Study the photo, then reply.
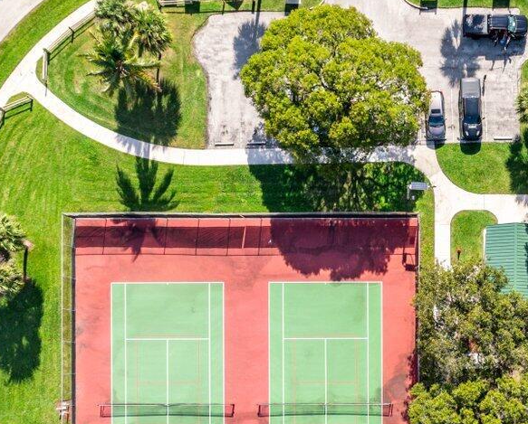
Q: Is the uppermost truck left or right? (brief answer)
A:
right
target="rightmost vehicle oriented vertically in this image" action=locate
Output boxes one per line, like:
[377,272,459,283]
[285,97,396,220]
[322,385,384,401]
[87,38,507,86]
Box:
[459,77,484,140]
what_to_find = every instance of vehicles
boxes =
[424,87,448,139]
[465,9,528,44]
[459,77,484,140]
